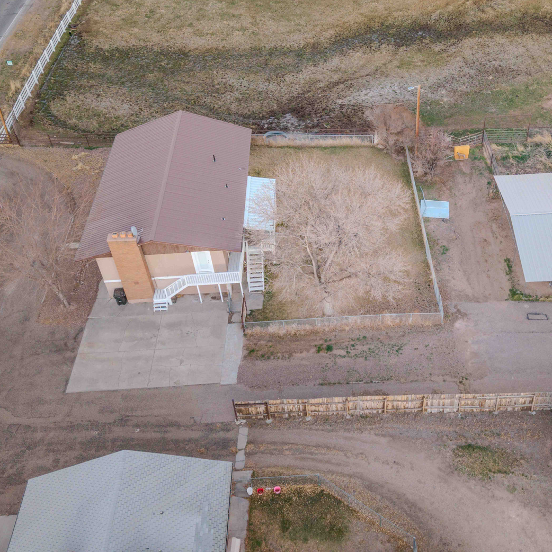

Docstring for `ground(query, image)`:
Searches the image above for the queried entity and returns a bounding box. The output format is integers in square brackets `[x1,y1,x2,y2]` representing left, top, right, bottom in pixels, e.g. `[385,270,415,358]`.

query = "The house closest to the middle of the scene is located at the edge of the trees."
[73,110,253,304]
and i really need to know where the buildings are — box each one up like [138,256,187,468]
[73,110,253,304]
[4,450,235,552]
[495,174,552,300]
